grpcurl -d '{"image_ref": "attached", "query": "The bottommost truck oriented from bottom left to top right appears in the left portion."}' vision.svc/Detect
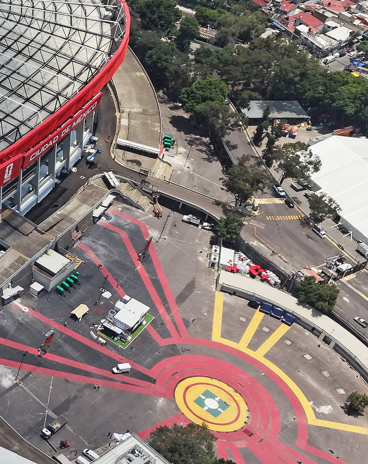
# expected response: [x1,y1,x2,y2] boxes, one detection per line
[37,419,63,440]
